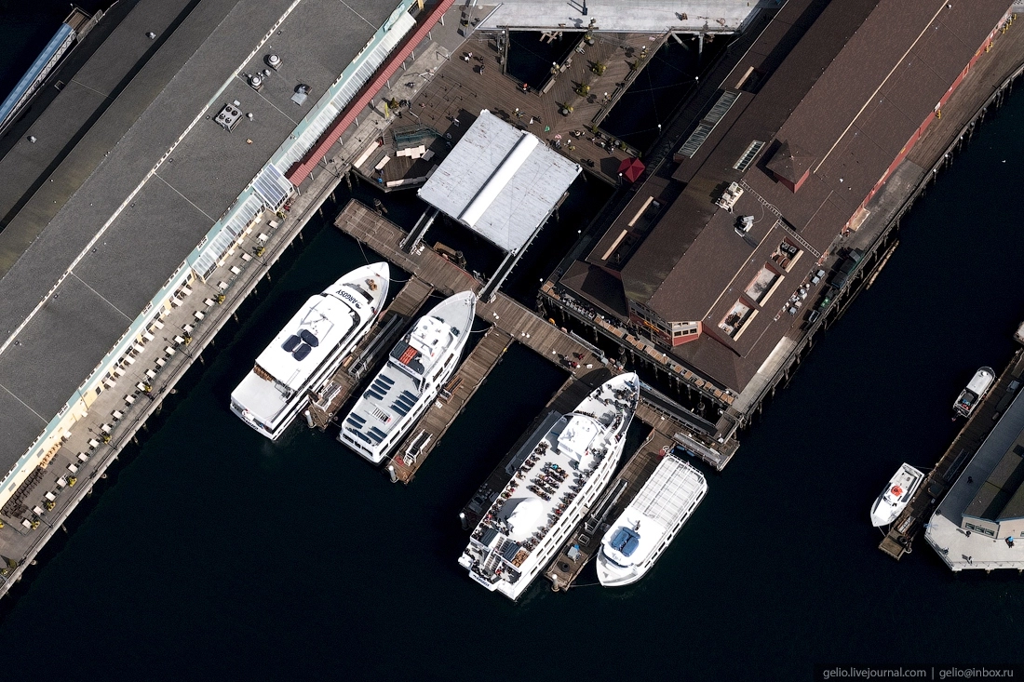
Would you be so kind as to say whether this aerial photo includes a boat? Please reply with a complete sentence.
Yes, a boat is visible in the scene.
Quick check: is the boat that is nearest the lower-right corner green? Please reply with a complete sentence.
No, the color of the boat that is nearest the lower-right corner is white.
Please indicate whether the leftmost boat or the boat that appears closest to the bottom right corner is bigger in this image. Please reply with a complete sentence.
Of the two, the leftmost boat is larger and the boat that appears closest to the bottom right corner is the smaller one.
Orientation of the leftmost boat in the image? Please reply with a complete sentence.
Seen from above, the leftmost boat lies diagonally.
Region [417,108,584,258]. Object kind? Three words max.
shed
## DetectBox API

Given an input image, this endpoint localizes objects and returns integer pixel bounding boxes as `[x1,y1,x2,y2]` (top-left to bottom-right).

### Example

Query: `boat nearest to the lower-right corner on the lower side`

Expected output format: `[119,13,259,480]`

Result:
[871,463,924,528]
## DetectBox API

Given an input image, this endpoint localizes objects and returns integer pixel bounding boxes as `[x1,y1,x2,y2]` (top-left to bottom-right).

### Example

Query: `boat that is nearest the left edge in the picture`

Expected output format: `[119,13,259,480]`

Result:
[229,260,390,440]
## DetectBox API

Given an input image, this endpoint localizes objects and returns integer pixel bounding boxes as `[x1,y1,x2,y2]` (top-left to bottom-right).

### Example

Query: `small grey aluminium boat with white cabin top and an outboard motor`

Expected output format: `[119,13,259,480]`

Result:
[953,365,992,419]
